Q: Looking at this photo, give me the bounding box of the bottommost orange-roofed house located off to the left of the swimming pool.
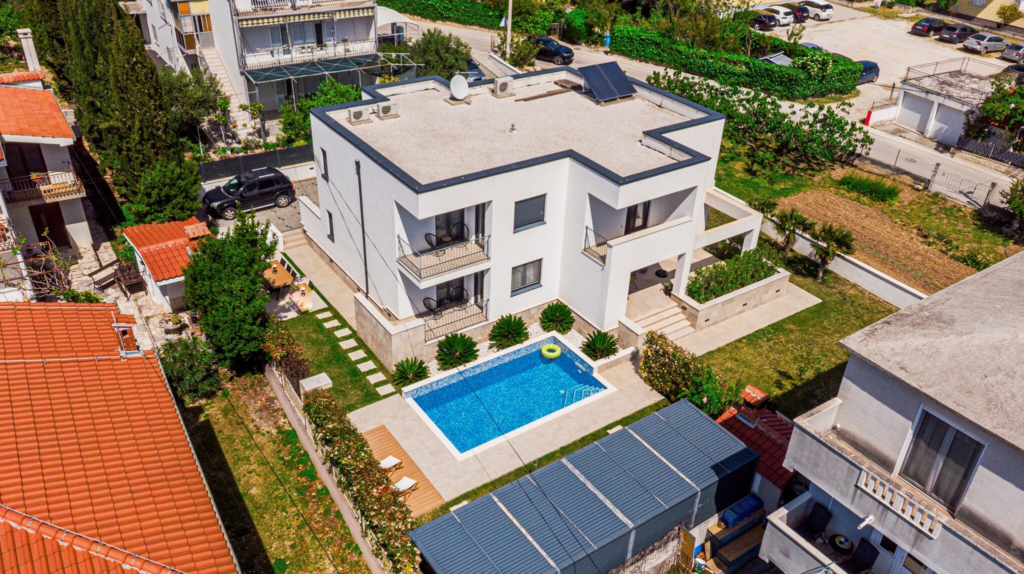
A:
[0,298,251,574]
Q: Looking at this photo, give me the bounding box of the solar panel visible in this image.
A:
[579,64,631,107]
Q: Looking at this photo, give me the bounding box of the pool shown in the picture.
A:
[401,330,641,462]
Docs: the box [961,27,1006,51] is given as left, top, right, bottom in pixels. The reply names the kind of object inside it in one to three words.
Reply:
car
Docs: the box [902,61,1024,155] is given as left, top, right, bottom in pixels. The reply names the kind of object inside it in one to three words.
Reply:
building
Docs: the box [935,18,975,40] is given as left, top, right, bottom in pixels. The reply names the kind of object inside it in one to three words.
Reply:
car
